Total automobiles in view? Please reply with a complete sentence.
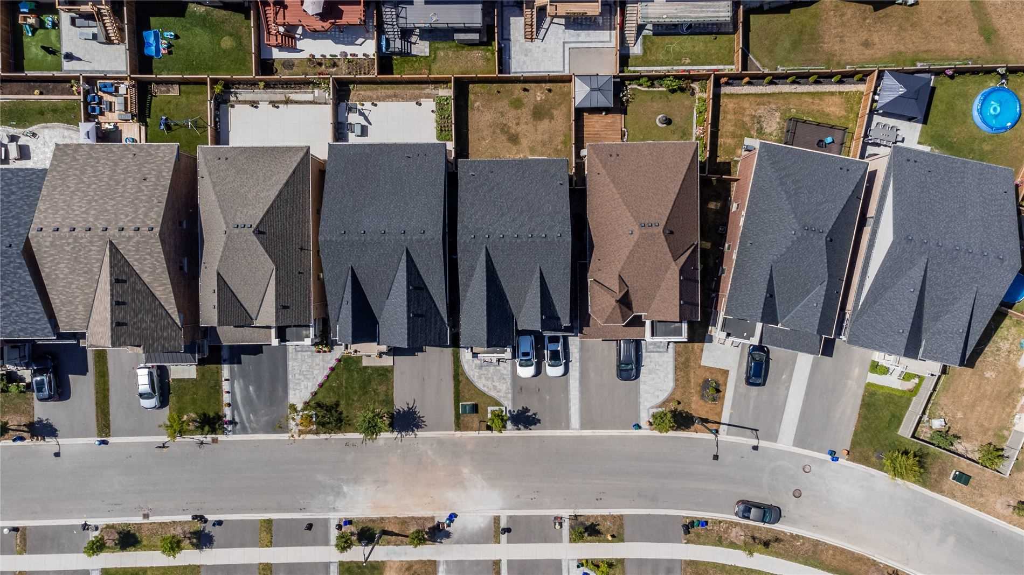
Looking from above, you can make out 7 automobiles.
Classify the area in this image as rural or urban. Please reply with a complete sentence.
From above, the setting appears urban.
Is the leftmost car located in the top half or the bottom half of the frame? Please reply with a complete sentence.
You can find the leftmost car in the bottom half.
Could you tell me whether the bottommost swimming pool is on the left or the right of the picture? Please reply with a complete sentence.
It is on the right.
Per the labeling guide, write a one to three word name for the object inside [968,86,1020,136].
swimming pool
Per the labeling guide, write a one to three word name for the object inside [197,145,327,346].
house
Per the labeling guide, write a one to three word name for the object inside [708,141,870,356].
house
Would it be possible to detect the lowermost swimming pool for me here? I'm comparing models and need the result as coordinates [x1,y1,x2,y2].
[1001,272,1024,305]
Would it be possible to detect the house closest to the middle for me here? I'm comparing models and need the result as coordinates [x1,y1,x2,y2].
[457,158,575,363]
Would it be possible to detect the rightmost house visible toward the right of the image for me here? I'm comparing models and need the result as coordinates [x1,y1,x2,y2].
[823,144,1021,376]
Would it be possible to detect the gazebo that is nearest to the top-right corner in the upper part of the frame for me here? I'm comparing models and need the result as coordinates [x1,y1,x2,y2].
[869,71,932,122]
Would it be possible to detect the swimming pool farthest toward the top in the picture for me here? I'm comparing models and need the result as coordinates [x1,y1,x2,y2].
[141,27,164,59]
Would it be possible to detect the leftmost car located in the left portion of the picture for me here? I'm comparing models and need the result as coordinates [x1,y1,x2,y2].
[31,354,61,403]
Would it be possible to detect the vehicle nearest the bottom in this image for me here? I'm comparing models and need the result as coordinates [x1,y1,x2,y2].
[733,498,781,526]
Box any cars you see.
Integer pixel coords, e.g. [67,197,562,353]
[616,340,639,381]
[31,354,61,403]
[136,365,162,409]
[733,498,781,526]
[745,343,769,387]
[515,334,537,377]
[544,334,566,377]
